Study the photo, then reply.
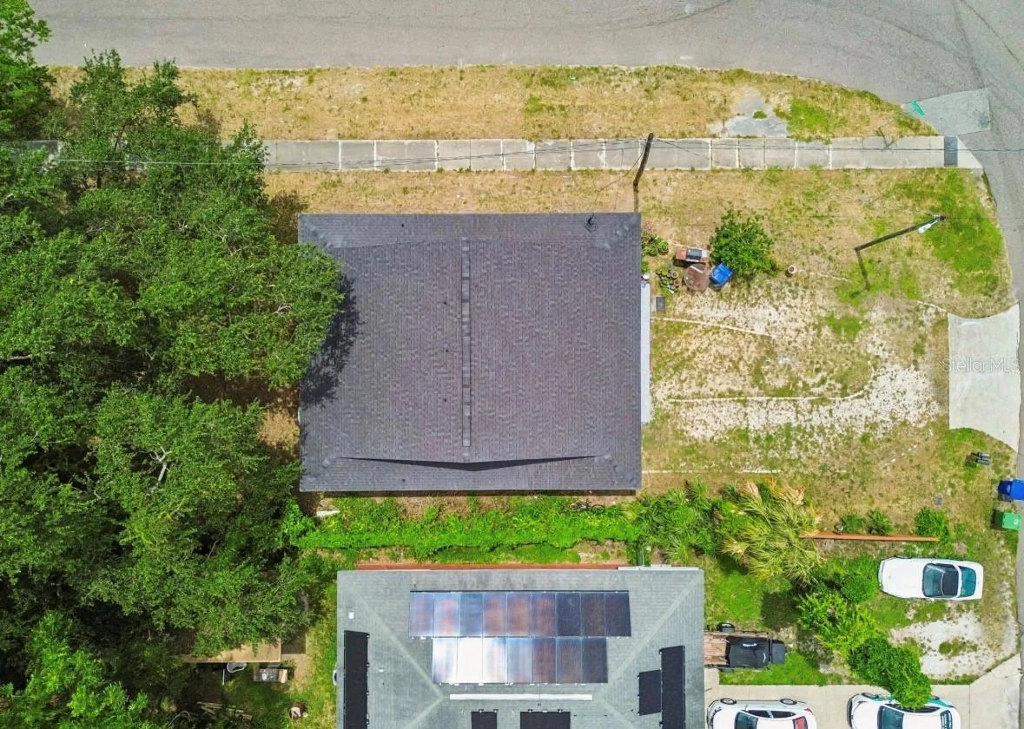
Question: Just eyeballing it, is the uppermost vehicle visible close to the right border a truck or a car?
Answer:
car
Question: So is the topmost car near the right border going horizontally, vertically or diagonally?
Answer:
horizontally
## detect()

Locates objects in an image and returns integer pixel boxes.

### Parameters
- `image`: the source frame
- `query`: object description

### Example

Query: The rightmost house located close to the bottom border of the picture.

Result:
[336,560,705,729]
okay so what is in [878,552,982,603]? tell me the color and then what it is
white car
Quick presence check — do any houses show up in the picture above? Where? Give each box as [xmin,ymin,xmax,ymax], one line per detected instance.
[297,212,643,492]
[336,560,705,729]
